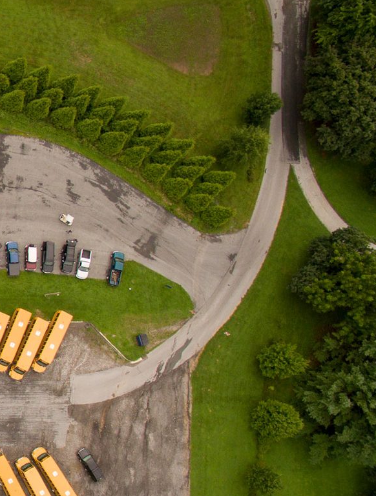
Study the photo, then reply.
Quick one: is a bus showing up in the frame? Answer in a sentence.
Yes, a bus can be made out from above.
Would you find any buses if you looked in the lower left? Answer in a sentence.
Yes, in the lower left there is a bus.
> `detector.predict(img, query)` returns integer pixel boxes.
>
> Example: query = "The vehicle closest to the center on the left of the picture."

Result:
[107,251,125,287]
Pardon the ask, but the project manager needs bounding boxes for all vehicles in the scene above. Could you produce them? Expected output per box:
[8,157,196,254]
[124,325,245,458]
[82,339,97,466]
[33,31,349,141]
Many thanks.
[6,241,20,277]
[25,246,39,271]
[0,308,30,375]
[16,455,51,496]
[32,445,76,496]
[77,446,105,484]
[9,317,48,382]
[59,215,77,226]
[60,246,77,274]
[0,448,25,496]
[66,237,77,247]
[41,241,56,274]
[75,249,92,280]
[107,251,125,287]
[31,310,72,376]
